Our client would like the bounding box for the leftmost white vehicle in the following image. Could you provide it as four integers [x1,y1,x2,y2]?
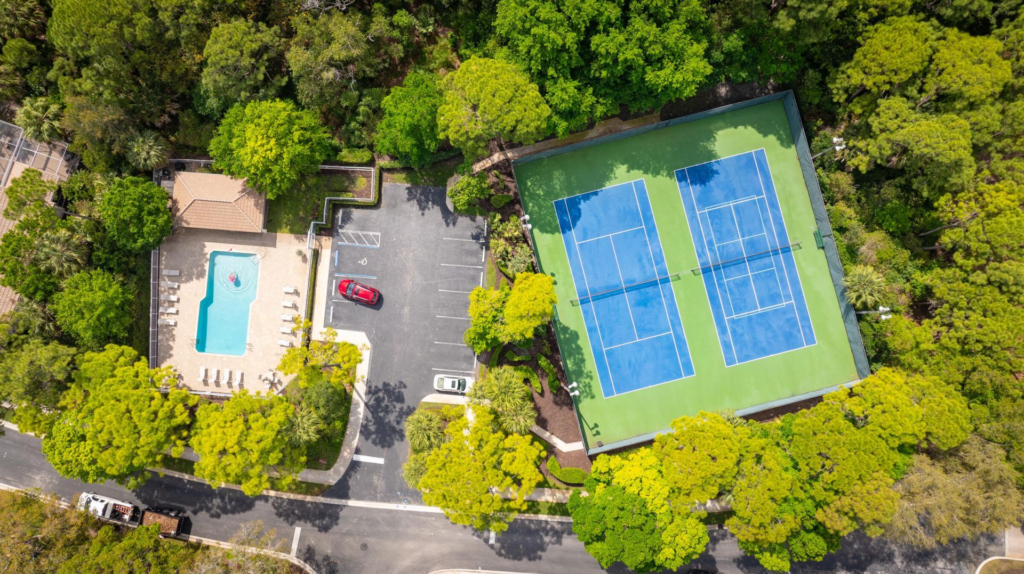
[78,492,137,525]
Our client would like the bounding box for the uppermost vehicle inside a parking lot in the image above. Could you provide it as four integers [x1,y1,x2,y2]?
[339,281,379,305]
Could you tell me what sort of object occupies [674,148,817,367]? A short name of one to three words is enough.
tennis court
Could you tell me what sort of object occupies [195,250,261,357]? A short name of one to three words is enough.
swimming pool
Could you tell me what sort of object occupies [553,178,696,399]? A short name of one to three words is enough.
tennis court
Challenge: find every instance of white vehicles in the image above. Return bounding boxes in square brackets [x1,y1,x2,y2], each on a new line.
[78,492,137,525]
[433,374,476,394]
